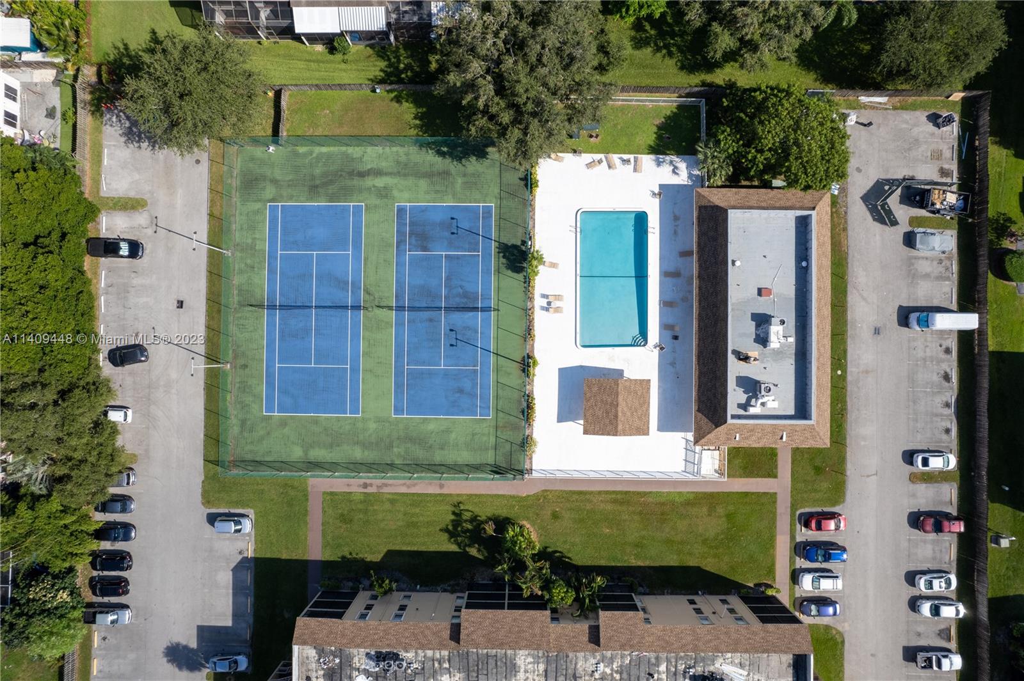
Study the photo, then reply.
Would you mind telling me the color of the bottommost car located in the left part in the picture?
blue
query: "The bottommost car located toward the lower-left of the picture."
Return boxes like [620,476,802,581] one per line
[208,653,250,675]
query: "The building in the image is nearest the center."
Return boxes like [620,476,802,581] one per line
[583,379,650,436]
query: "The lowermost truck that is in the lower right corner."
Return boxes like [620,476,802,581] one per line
[914,651,962,674]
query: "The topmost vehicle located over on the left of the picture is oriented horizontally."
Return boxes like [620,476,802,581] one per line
[88,237,145,258]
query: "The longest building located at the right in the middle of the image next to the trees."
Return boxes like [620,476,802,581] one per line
[691,188,831,447]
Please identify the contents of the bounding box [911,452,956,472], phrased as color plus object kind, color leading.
white car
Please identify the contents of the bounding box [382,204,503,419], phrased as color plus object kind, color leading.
blue tennis court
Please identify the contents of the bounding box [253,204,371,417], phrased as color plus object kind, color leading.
blue tennis court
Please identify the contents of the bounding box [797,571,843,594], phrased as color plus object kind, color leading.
white car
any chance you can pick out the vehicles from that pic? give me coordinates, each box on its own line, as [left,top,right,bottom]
[912,572,956,594]
[805,514,846,534]
[88,577,132,599]
[914,598,963,621]
[100,406,137,425]
[911,452,956,472]
[88,237,145,258]
[208,653,250,675]
[914,651,962,674]
[802,544,848,565]
[798,598,840,620]
[213,515,253,536]
[96,523,138,544]
[90,552,135,573]
[797,571,843,594]
[95,496,137,516]
[107,345,151,366]
[82,605,135,628]
[904,311,977,333]
[108,468,140,486]
[915,515,966,536]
